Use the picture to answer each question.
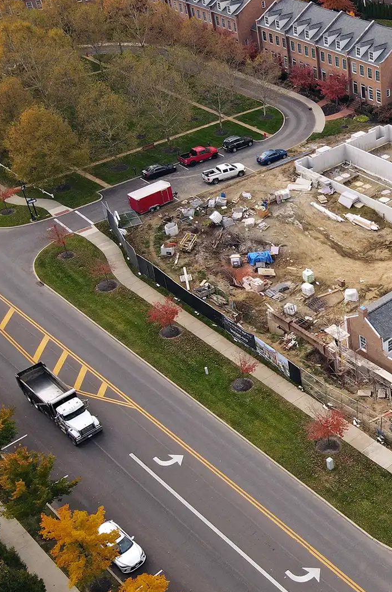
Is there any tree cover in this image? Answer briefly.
Yes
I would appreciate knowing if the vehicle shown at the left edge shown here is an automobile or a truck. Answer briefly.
truck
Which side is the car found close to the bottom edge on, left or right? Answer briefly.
left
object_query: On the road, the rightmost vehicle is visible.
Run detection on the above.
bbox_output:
[253,149,289,166]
